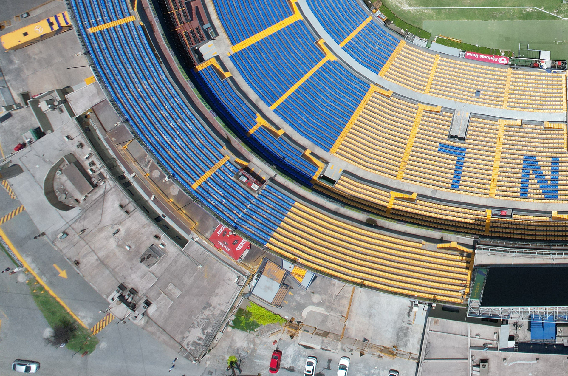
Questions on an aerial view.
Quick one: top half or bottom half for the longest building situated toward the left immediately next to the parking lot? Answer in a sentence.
The longest building situated toward the left immediately next to the parking lot is in the bottom half of the image.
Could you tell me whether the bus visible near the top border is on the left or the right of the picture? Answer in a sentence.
It is on the left.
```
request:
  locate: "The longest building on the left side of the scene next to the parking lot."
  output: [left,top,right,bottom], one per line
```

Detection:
[1,130,254,365]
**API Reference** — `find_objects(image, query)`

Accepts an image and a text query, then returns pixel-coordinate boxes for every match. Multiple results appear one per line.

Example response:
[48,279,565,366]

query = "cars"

[337,358,349,376]
[11,359,37,374]
[303,357,316,376]
[267,350,282,374]
[389,370,399,376]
